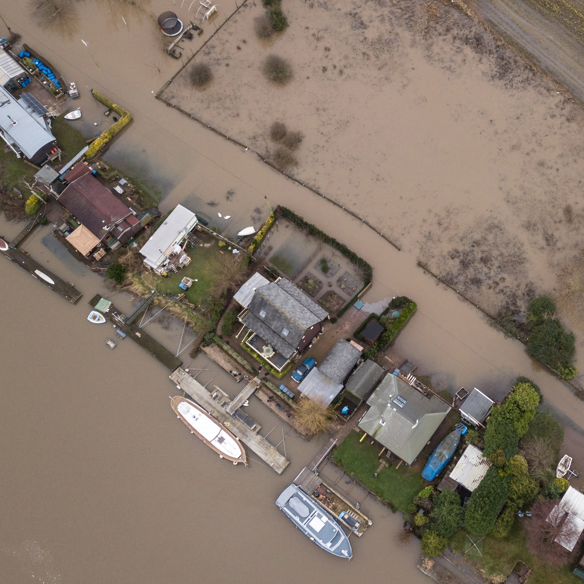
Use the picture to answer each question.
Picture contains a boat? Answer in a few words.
Yes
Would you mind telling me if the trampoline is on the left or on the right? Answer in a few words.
left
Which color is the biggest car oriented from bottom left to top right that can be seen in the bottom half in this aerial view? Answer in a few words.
blue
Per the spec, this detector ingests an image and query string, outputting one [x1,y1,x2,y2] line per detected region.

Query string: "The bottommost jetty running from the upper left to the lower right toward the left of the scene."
[170,367,290,474]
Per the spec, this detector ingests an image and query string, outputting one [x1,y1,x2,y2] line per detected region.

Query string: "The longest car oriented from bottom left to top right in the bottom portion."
[292,357,316,382]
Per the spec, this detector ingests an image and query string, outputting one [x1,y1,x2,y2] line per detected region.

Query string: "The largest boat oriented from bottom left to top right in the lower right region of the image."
[420,430,461,483]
